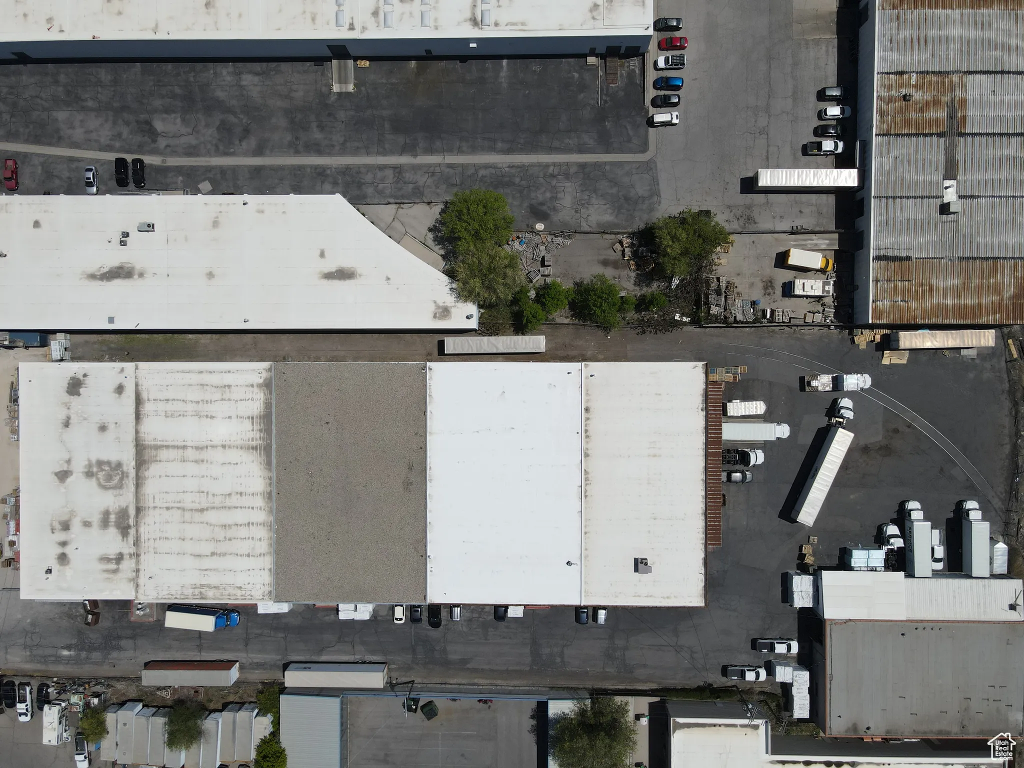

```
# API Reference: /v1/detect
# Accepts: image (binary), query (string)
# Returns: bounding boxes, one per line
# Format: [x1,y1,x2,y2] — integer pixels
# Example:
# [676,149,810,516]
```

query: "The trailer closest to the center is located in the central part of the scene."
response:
[444,335,545,354]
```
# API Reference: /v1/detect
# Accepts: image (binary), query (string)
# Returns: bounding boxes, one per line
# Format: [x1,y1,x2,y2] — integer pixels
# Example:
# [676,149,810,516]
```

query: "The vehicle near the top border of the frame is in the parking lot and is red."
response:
[657,36,688,52]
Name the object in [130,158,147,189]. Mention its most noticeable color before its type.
black car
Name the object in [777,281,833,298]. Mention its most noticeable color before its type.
white camper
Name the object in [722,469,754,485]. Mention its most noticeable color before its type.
gray vehicle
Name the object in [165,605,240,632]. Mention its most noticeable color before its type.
white truck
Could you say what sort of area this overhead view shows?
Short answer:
industrial area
